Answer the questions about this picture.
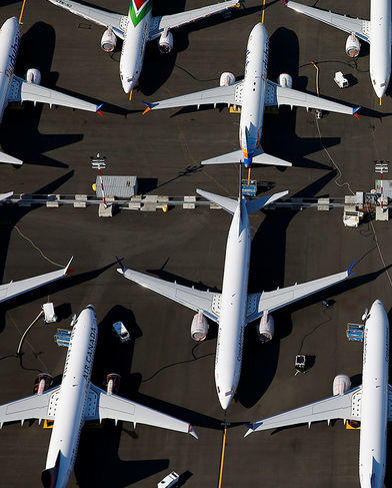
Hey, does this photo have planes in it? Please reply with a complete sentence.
Yes, the image includes a plane.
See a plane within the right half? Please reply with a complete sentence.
Yes, a plane shows up within the right half.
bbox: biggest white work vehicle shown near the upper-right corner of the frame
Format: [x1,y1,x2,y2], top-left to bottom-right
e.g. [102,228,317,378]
[332,73,350,91]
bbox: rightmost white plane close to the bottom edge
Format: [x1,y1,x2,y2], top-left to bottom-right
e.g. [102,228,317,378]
[243,300,392,488]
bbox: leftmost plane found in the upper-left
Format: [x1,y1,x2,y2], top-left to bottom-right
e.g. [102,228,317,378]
[0,22,101,130]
